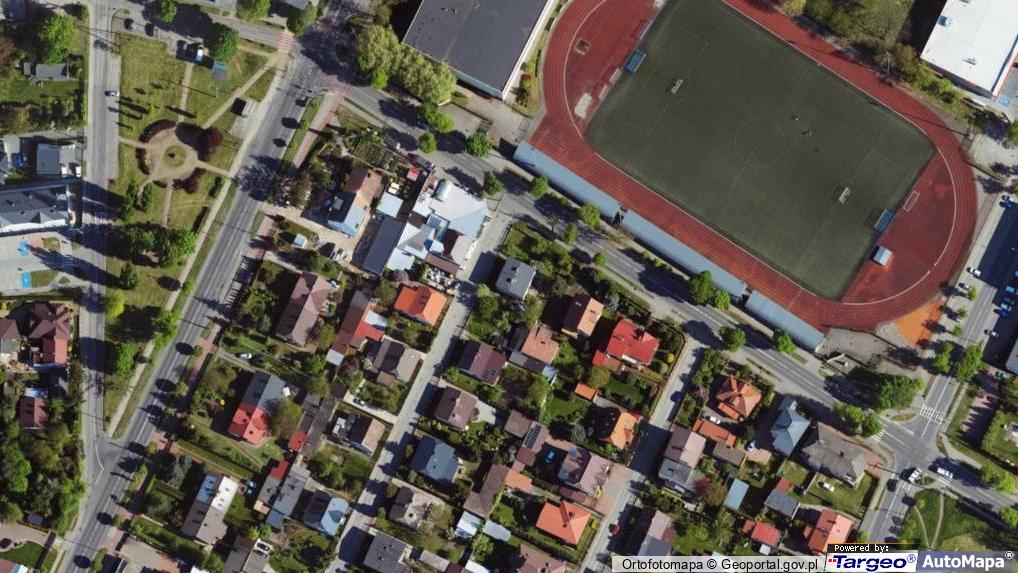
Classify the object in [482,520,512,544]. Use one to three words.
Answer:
shed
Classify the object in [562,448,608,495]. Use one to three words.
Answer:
house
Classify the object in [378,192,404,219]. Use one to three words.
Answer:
building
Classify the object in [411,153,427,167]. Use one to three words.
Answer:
vehicle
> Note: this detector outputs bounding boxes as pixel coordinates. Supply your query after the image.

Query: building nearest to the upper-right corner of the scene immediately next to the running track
[922,0,1018,101]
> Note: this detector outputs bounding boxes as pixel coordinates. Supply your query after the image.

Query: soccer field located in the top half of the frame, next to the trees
[584,0,935,300]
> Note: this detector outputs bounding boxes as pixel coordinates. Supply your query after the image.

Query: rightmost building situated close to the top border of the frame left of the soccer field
[404,0,556,99]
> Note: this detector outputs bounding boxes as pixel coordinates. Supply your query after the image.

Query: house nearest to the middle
[496,259,537,302]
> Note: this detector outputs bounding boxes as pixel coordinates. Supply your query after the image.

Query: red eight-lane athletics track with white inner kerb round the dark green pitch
[518,0,976,332]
